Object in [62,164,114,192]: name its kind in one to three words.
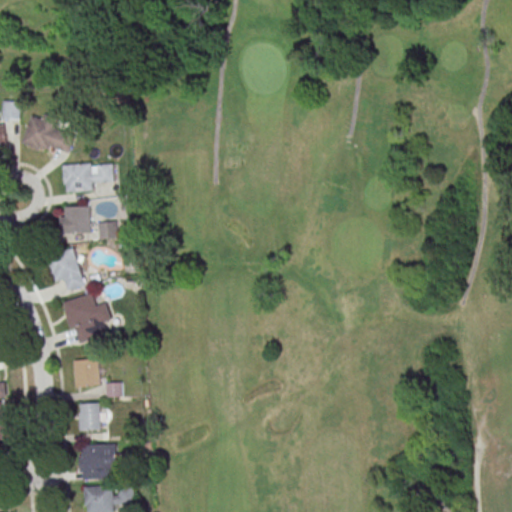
house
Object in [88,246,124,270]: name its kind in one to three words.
swimming pool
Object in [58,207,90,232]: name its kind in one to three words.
house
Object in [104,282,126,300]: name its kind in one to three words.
swimming pool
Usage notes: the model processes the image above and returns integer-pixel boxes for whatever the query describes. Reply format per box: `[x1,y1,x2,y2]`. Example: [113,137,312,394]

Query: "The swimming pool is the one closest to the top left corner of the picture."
[92,197,124,222]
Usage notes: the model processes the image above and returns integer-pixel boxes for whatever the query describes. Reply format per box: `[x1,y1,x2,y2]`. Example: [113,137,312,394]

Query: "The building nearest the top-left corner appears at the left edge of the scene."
[2,101,20,120]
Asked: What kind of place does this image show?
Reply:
golf course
